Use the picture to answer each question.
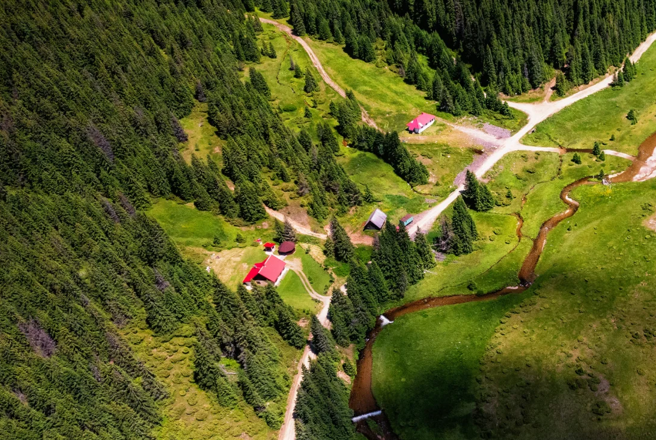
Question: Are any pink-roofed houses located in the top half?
Yes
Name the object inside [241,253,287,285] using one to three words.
house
